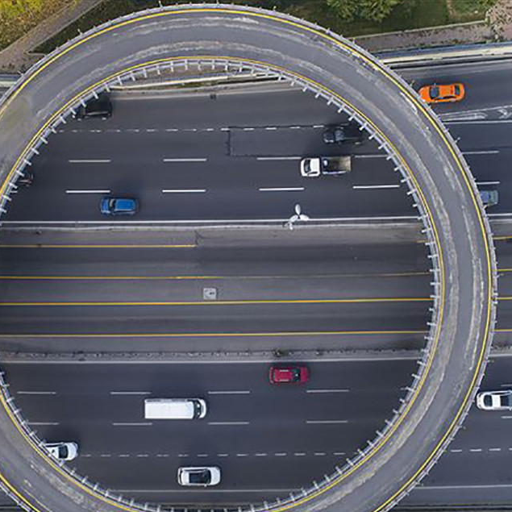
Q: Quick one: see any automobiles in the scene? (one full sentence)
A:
Yes, the photo shows an automobile.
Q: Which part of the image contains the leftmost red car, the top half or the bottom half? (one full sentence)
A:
The leftmost red car sits in the bottom half of the picture.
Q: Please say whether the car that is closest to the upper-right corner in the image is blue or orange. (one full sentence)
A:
The car that is closest to the upper-right corner is orange.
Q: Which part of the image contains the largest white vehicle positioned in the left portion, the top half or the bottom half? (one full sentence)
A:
The largest white vehicle positioned in the left portion is in the bottom half of the image.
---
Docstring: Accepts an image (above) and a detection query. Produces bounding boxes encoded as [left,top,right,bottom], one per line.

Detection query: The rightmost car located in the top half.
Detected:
[481,187,499,207]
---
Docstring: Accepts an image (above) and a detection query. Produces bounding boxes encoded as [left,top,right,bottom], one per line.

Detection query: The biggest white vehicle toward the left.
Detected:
[144,397,207,421]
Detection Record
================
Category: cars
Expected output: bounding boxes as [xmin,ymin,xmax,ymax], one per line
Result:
[177,465,220,489]
[481,187,499,207]
[73,98,112,118]
[475,388,512,411]
[13,166,33,186]
[100,196,138,218]
[269,363,308,385]
[418,83,465,105]
[46,440,79,461]
[323,122,366,146]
